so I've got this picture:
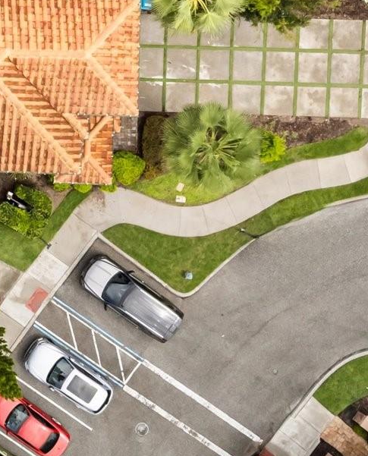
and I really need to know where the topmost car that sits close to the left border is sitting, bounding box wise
[17,329,114,417]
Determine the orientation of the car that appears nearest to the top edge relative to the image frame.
diagonally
